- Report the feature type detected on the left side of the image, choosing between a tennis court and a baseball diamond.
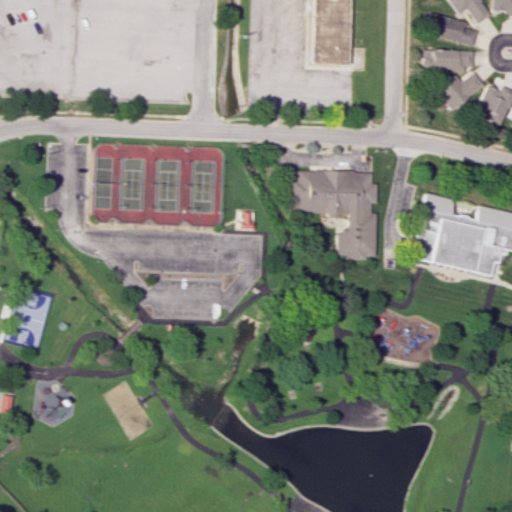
tennis court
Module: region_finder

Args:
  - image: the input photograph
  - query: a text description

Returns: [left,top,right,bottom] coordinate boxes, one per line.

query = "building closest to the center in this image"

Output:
[235,209,256,230]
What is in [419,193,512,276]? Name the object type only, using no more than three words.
building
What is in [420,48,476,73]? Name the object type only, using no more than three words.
house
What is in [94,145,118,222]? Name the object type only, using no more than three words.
tennis court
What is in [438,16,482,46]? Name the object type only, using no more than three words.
house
